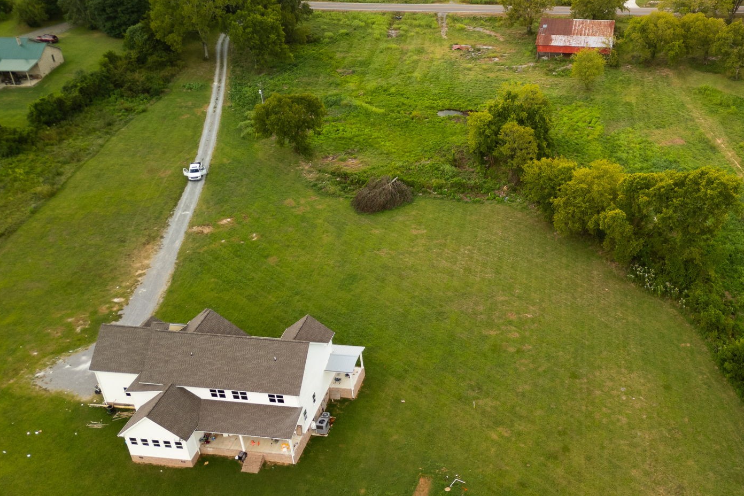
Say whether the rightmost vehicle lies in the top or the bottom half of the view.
top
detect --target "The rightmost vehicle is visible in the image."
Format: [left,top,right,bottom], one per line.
[186,157,215,177]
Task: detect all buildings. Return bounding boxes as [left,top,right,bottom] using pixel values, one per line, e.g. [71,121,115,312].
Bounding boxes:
[88,308,368,472]
[536,19,615,59]
[0,36,63,88]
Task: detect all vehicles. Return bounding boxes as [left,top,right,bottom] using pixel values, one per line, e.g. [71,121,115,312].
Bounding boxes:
[186,157,215,177]
[36,32,62,41]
